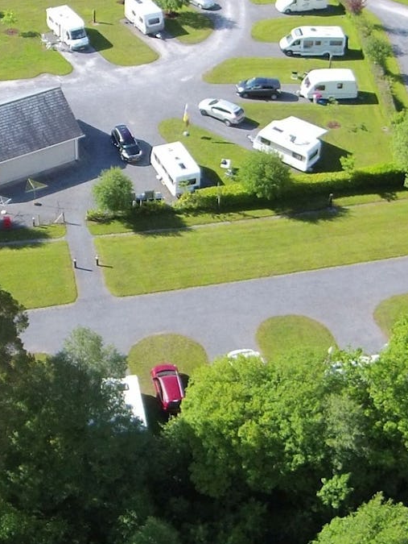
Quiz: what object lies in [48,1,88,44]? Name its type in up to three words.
camper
